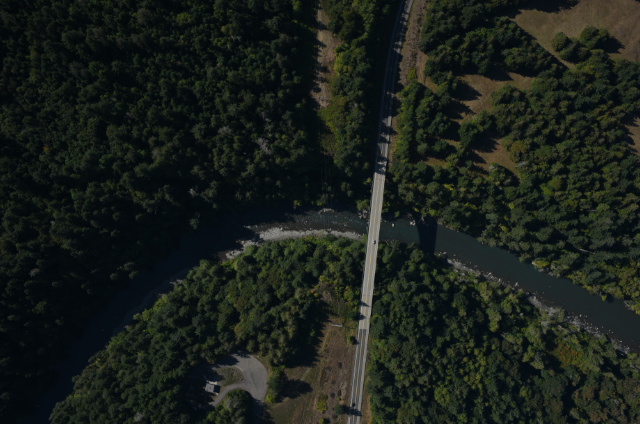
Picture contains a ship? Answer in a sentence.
No, I find no ship anywhere in the image.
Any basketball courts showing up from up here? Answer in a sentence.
No, there isn't any basketball court down there.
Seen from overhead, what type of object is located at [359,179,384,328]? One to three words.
bridge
